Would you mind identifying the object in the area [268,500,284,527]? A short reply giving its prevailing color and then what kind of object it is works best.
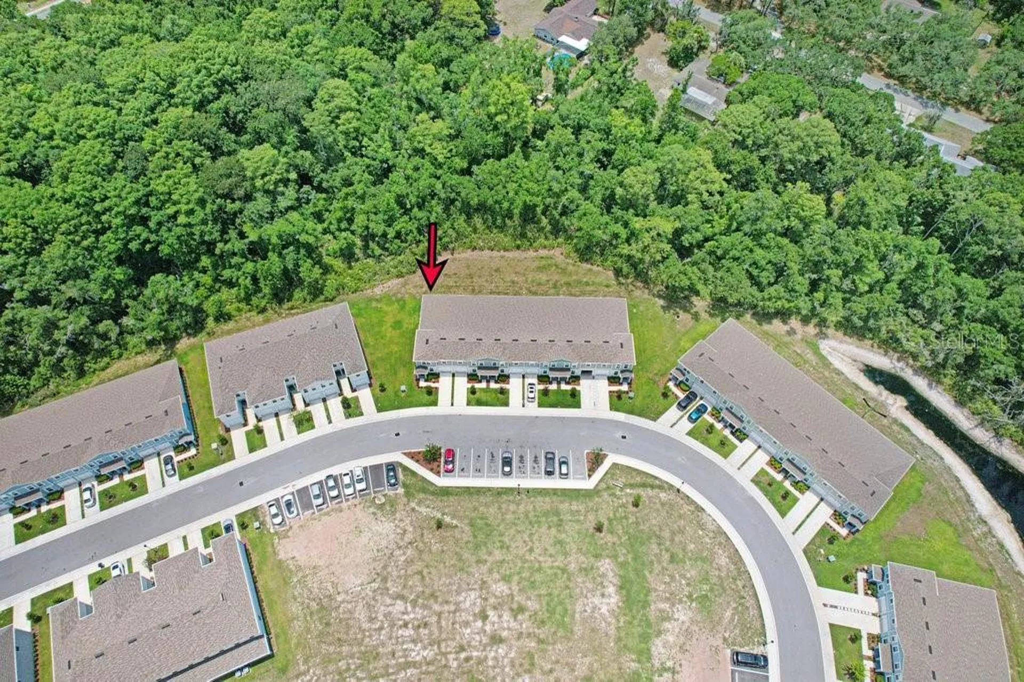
white car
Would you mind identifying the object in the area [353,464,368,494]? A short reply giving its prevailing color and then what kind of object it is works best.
white vehicle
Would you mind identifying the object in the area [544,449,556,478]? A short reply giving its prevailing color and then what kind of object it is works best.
gray vehicle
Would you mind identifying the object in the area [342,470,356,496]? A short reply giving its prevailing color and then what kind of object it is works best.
white car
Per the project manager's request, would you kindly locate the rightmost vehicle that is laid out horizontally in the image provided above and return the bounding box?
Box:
[734,652,765,668]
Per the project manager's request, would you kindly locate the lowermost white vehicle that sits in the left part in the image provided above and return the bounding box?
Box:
[109,558,127,579]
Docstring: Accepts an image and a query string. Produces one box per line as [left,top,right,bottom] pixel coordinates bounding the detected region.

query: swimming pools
[553,50,578,68]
